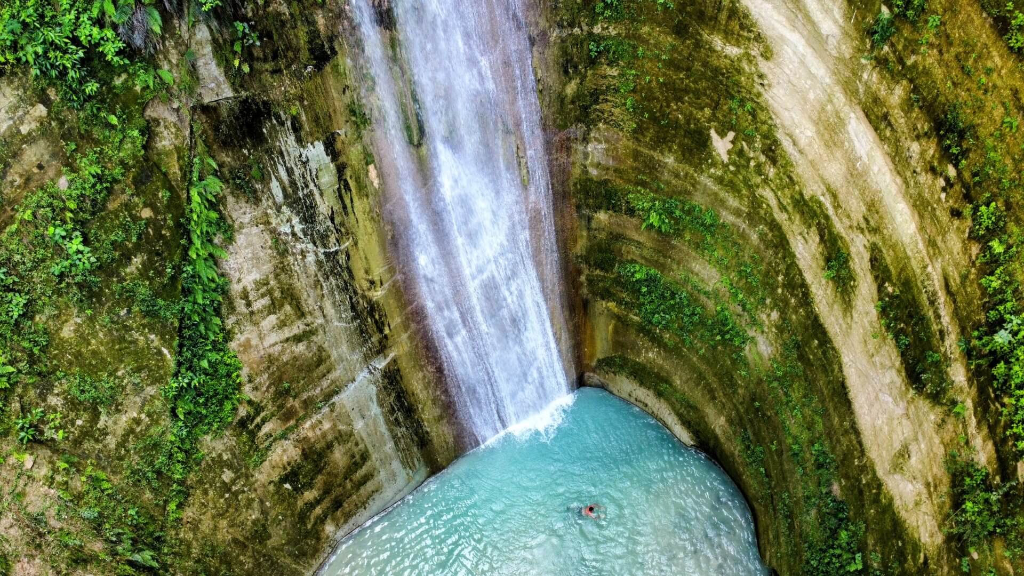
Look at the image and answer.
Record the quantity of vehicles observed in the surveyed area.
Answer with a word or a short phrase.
0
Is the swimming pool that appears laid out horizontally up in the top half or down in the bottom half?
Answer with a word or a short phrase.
bottom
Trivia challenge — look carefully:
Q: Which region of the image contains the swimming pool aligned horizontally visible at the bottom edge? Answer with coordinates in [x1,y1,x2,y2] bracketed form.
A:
[316,387,774,576]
